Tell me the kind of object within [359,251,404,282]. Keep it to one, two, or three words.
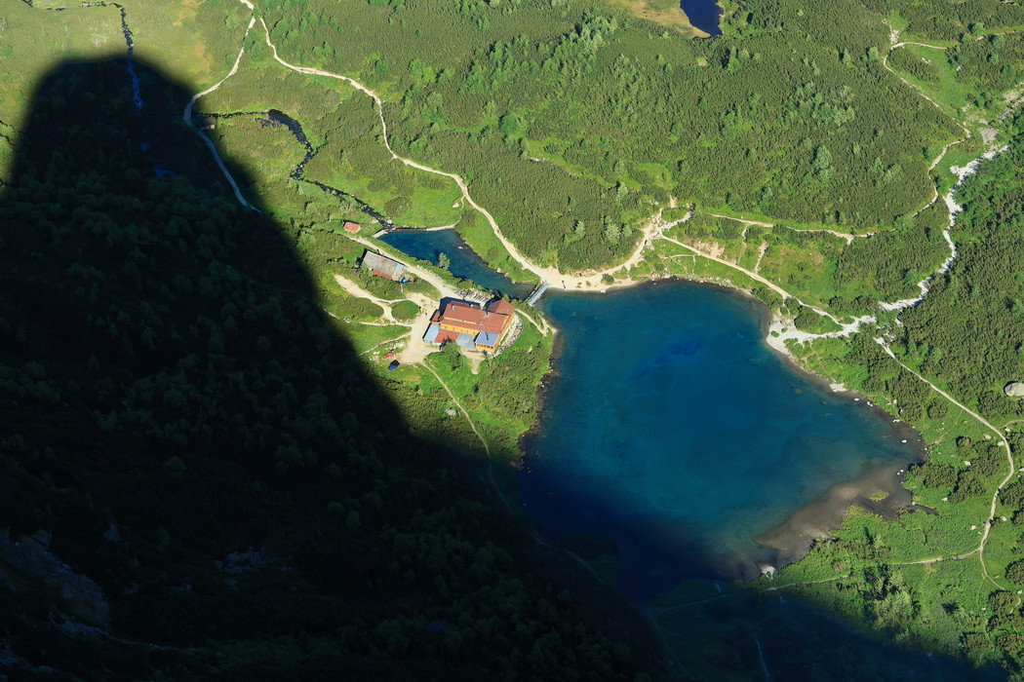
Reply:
barn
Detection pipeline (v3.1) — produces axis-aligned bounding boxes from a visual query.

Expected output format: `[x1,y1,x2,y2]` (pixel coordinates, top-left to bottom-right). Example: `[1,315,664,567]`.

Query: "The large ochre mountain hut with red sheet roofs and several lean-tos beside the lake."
[424,298,516,353]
